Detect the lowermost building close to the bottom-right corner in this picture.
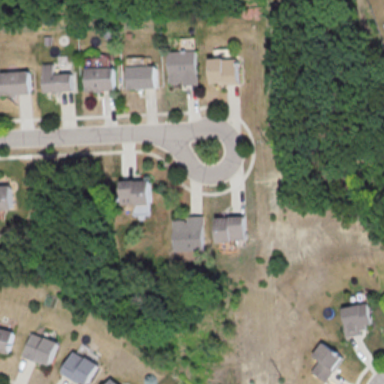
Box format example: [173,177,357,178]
[308,341,343,382]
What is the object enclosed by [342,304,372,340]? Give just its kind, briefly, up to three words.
house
